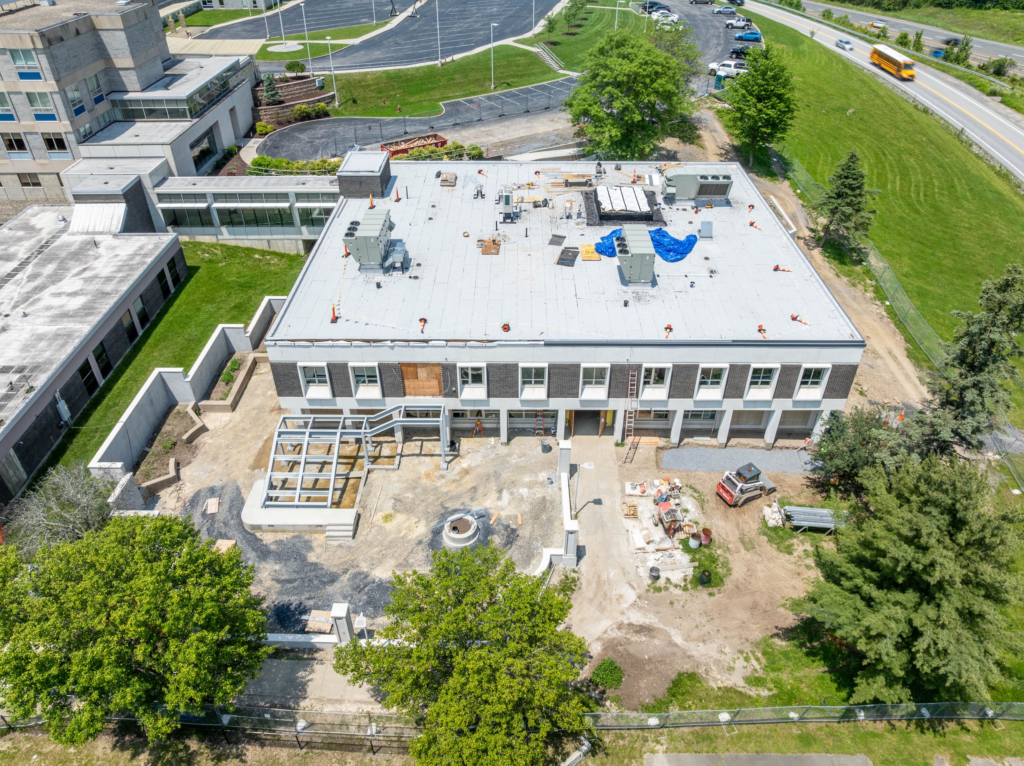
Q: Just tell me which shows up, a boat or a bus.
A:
bus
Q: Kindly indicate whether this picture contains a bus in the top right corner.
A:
Yes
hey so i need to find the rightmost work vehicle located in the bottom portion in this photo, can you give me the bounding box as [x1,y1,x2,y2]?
[715,458,782,508]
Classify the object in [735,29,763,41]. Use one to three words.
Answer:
vehicle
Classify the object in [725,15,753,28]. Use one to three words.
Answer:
vehicle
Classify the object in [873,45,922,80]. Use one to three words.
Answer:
bus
